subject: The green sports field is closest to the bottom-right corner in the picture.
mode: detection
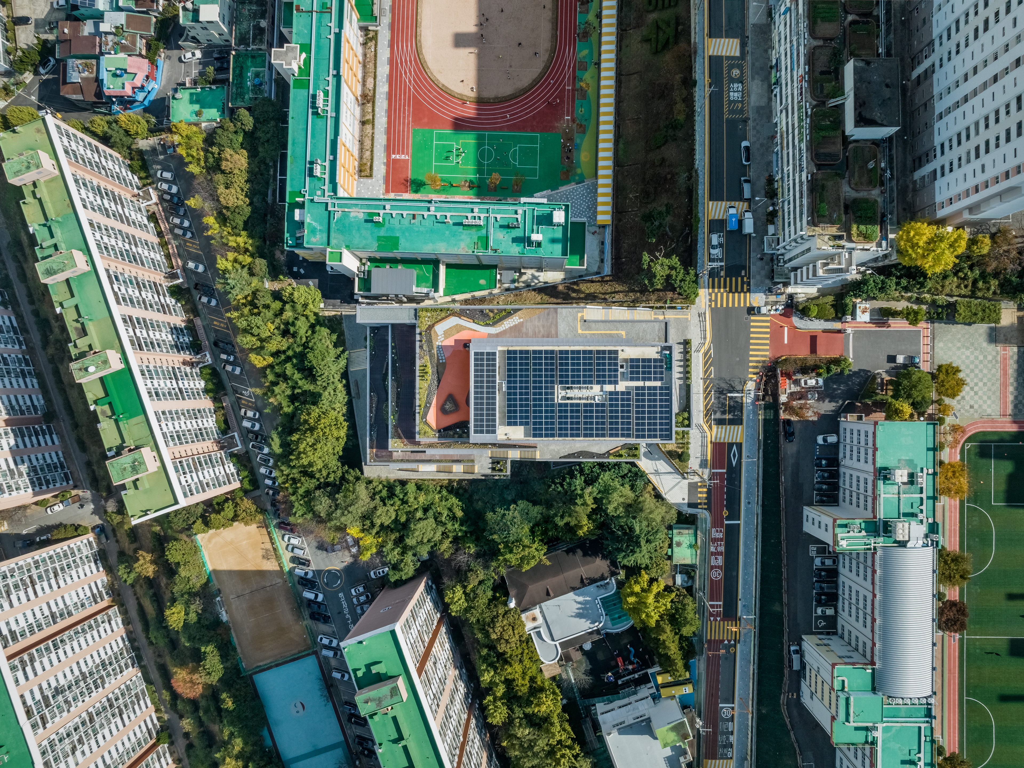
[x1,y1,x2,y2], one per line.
[959,431,1024,768]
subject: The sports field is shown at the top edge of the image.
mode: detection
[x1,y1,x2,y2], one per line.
[417,0,557,104]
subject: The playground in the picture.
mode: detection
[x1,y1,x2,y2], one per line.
[571,629,664,695]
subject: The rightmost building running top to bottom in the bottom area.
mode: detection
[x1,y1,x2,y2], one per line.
[801,418,941,768]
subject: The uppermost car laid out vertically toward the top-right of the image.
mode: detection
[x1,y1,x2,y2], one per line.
[740,141,752,165]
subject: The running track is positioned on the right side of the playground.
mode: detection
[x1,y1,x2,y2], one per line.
[948,420,1024,764]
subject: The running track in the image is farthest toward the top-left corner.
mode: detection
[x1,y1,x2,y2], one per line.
[386,0,578,193]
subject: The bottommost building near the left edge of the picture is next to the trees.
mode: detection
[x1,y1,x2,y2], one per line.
[0,537,169,768]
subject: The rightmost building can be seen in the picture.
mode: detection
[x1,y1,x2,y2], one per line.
[911,0,1024,229]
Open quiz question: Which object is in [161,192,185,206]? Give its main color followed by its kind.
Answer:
black vehicle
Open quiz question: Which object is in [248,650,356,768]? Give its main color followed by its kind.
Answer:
blue sports court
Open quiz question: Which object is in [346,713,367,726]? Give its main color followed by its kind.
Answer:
black vehicle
